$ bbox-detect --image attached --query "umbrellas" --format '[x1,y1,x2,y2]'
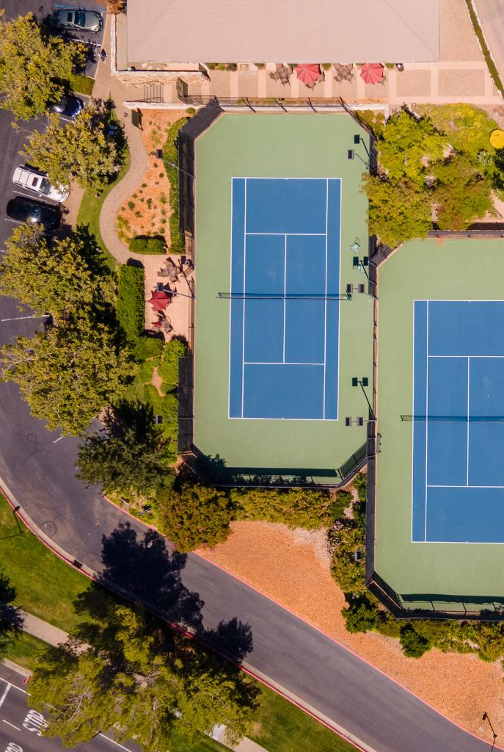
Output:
[296,62,321,87]
[361,62,385,85]
[152,290,174,312]
[154,318,170,330]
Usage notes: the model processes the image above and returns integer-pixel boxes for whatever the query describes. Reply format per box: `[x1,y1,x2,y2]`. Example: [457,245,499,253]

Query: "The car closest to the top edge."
[53,9,104,36]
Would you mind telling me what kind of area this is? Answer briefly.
sports ground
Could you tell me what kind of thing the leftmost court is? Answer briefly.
tennis court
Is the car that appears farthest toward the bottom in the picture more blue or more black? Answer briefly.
black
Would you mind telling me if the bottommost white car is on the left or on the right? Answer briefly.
left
